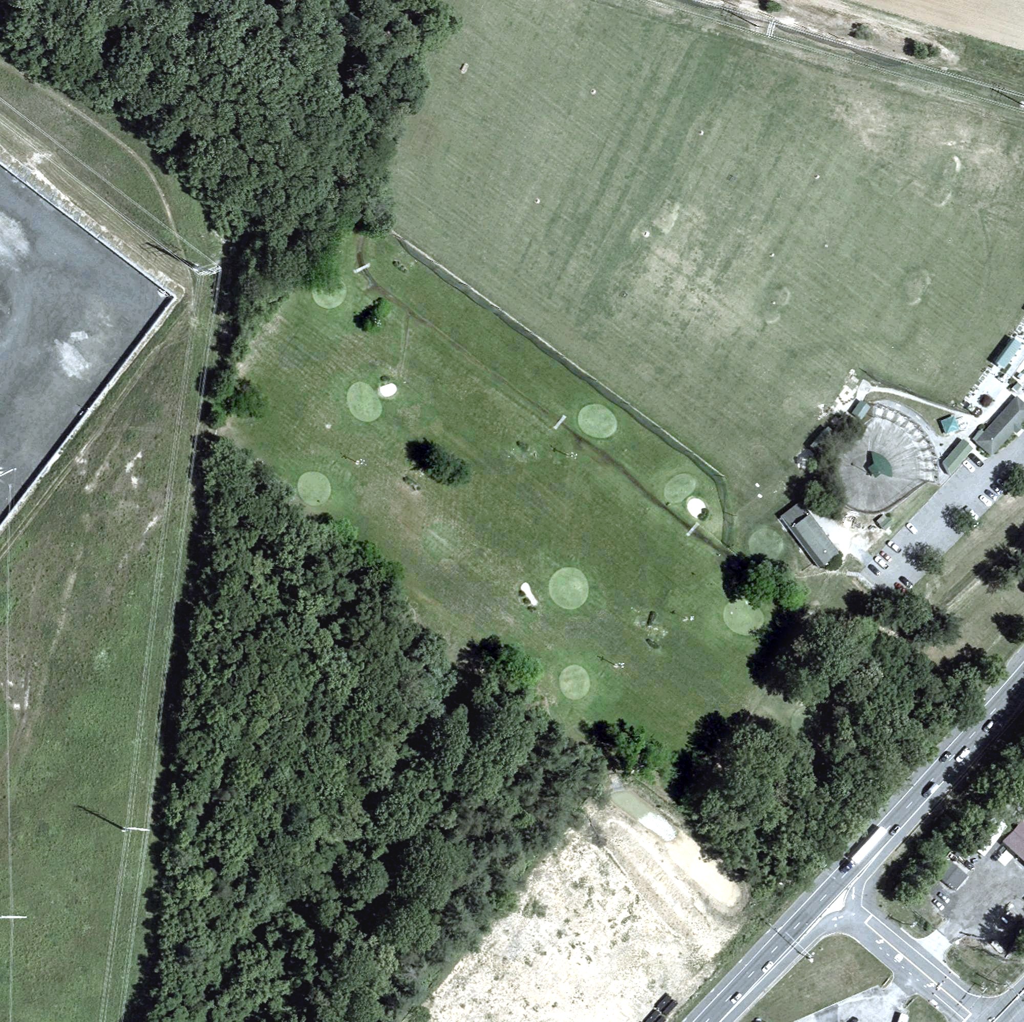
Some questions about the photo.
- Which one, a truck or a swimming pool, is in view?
truck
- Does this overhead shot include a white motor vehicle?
Yes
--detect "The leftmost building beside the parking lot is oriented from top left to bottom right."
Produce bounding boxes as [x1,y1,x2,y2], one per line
[781,514,839,566]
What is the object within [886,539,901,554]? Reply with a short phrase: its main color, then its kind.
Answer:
white vehicle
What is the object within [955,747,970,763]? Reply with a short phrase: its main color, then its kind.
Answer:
white vehicle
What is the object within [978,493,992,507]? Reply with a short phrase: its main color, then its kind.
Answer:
white car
